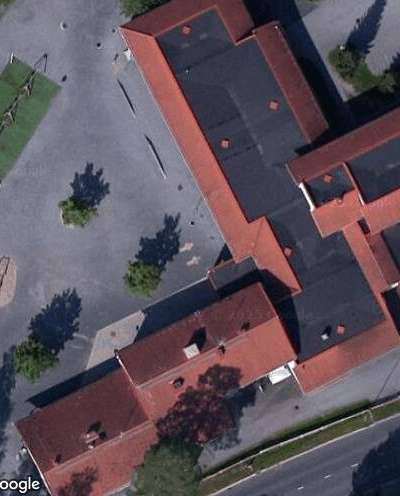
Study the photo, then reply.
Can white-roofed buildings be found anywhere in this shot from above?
No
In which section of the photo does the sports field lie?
top left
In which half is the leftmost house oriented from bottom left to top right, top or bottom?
bottom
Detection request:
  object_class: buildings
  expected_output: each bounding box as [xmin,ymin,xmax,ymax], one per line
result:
[15,281,297,496]
[121,0,400,395]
